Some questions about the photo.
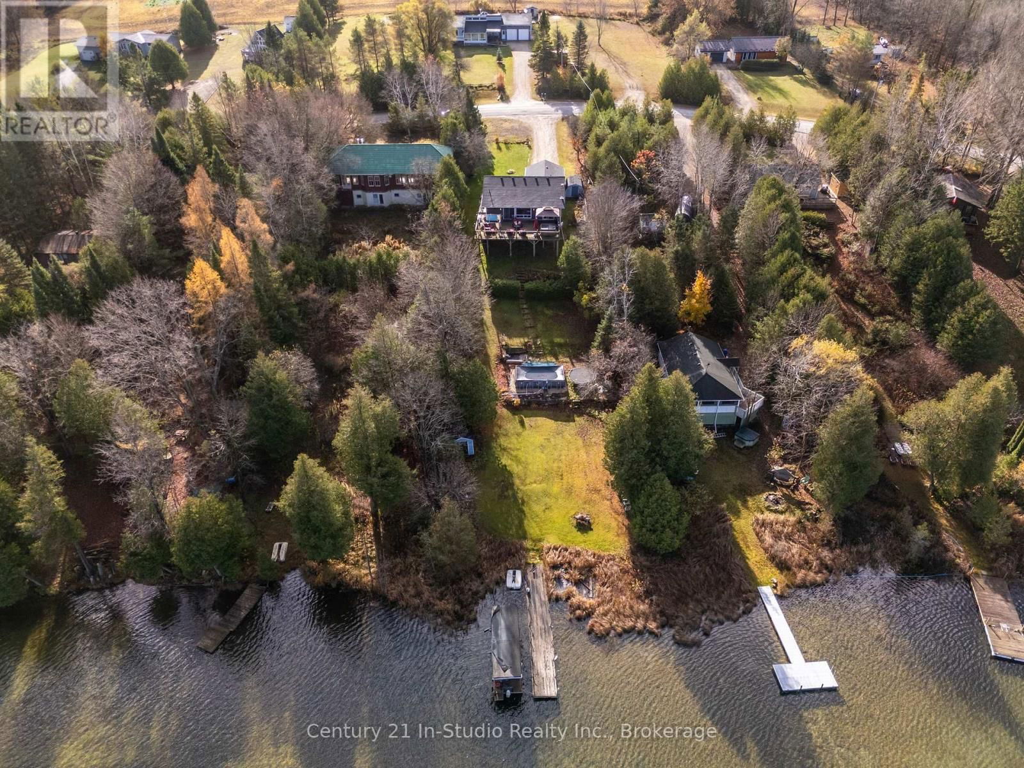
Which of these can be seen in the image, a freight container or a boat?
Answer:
boat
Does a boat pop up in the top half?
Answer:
No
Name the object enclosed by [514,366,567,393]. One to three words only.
swimming pool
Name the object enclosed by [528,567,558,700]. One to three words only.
pier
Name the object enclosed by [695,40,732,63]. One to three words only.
building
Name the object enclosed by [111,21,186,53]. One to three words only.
house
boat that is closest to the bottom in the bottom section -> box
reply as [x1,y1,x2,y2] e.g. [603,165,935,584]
[484,609,523,705]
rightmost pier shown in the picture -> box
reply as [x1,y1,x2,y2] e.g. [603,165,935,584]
[969,575,1024,665]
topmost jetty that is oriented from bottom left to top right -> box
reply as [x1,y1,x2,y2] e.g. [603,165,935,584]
[209,583,266,633]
